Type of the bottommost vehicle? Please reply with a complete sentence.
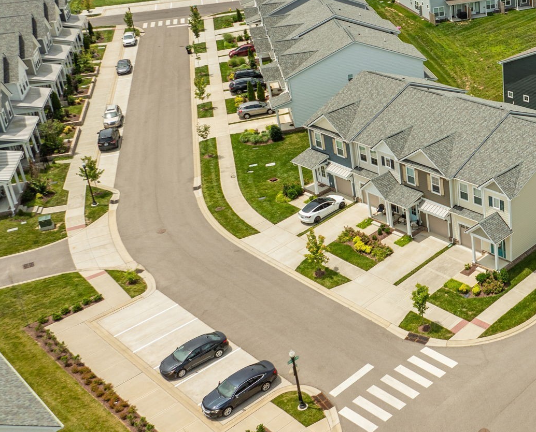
The bottommost vehicle can be classified as an automobile.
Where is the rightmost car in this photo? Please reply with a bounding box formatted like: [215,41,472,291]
[294,194,345,223]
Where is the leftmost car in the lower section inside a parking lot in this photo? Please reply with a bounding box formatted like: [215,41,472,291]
[152,327,230,380]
